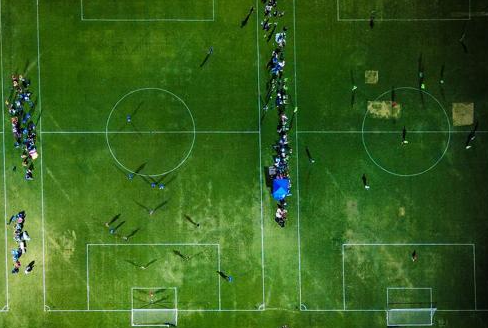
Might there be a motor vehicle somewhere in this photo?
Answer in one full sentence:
No, I can't see a single motor vehicle in this photo.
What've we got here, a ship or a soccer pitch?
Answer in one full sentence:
I can see a soccer pitch in this picture.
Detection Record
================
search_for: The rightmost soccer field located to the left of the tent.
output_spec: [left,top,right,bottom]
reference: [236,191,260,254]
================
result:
[38,0,264,310]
